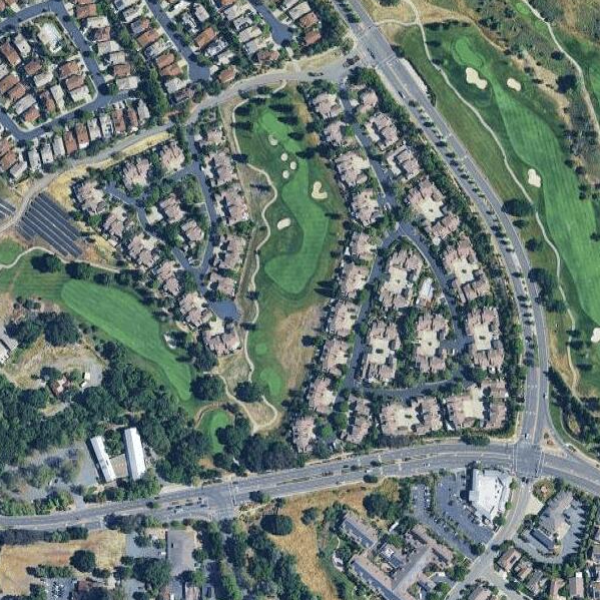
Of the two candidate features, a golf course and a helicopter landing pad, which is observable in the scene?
golf course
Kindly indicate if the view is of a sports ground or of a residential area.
residential area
